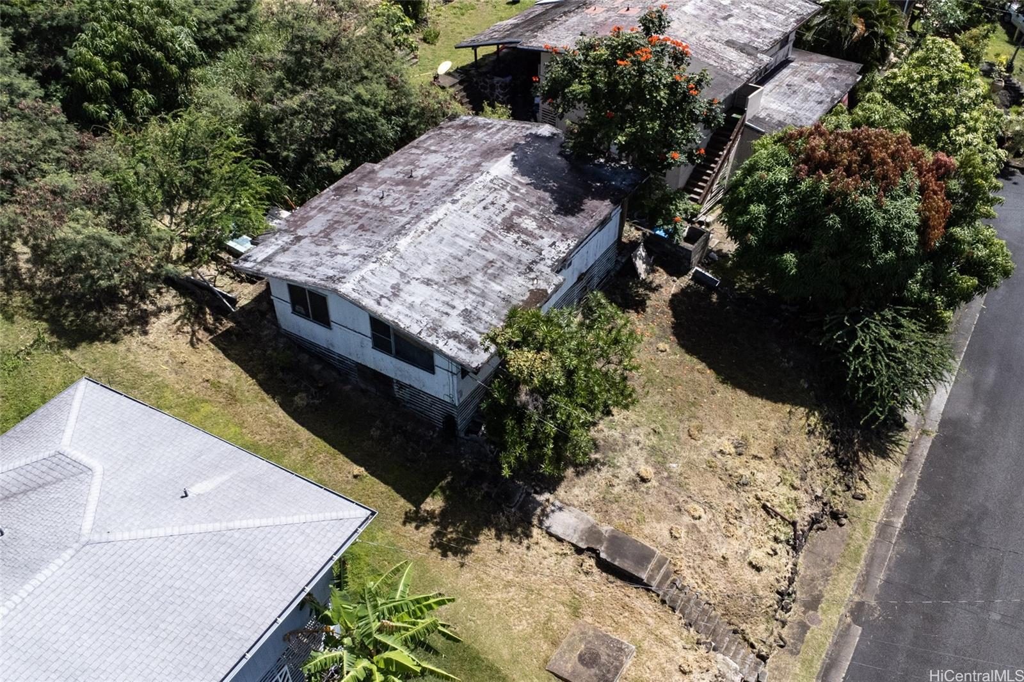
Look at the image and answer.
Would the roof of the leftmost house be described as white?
Yes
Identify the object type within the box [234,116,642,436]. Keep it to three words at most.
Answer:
house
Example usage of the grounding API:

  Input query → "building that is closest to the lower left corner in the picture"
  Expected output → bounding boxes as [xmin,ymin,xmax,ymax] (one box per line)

[0,373,379,682]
